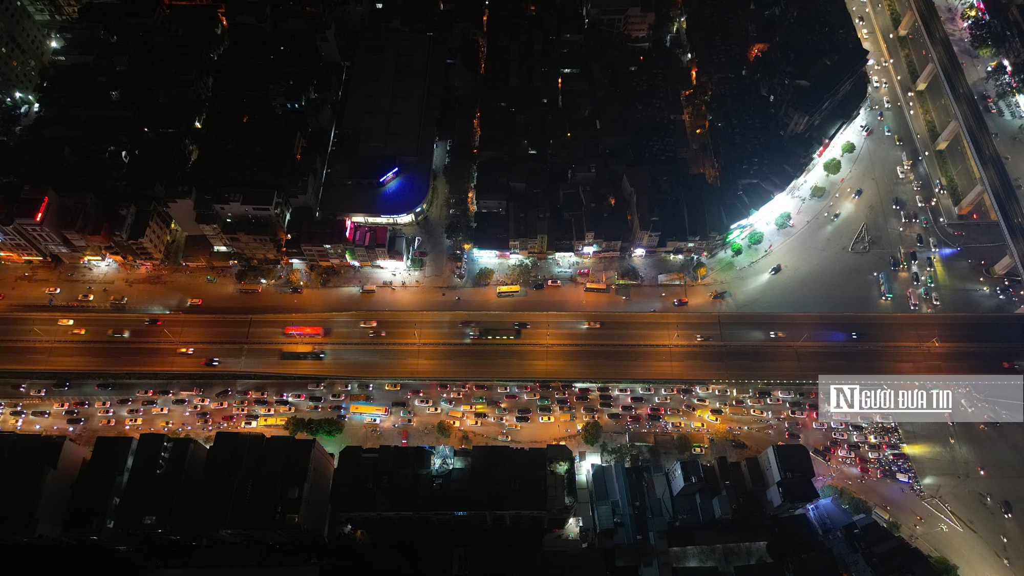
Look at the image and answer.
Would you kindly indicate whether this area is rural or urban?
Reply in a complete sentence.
This place is urban.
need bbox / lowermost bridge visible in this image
[0,310,1024,382]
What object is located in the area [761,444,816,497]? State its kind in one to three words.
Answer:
house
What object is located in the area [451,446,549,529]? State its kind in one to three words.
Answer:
building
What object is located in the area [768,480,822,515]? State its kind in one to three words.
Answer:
house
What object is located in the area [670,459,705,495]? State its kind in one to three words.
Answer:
building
